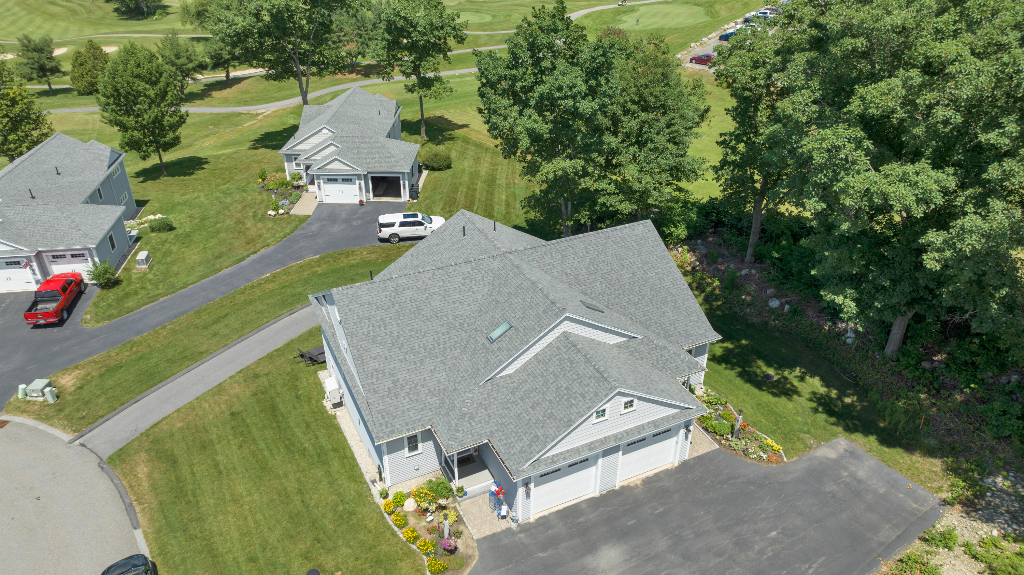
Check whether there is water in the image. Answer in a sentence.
No, the picture contains no water.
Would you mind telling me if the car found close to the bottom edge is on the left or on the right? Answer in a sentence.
It is on the left.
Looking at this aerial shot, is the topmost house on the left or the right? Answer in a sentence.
The topmost house is on the left side of the image.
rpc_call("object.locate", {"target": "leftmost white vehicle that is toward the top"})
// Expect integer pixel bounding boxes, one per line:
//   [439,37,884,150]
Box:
[375,208,451,244]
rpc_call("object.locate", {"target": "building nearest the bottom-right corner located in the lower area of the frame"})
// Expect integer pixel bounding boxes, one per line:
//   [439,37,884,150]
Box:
[308,209,723,522]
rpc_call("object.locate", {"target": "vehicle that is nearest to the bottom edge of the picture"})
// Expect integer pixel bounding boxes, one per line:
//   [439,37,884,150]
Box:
[100,547,163,575]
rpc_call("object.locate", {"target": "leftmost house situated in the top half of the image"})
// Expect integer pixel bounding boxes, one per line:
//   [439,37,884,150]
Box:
[0,132,130,294]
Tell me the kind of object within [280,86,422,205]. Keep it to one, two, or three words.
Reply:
house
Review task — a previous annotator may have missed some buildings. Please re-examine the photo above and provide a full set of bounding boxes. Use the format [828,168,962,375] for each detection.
[280,86,422,205]
[308,209,723,522]
[0,132,130,294]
